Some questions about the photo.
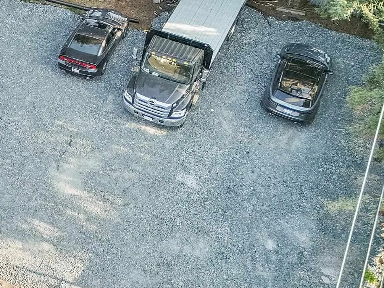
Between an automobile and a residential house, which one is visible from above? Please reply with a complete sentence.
Of the two, only an automobile appears.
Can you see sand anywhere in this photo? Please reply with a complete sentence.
No, there is no sand in the image.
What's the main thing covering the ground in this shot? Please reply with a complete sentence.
The bulk of the photo consists of paved ground.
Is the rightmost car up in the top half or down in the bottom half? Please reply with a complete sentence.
Seen from above, the rightmost car lies in the top half of the view.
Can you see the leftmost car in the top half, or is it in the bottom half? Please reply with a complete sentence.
Seen from above, the leftmost car lies in the top half of the view.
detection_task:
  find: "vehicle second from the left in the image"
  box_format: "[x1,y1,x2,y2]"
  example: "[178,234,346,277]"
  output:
[125,0,246,127]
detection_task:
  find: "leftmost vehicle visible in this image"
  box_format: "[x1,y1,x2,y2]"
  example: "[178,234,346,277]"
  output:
[56,9,131,83]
